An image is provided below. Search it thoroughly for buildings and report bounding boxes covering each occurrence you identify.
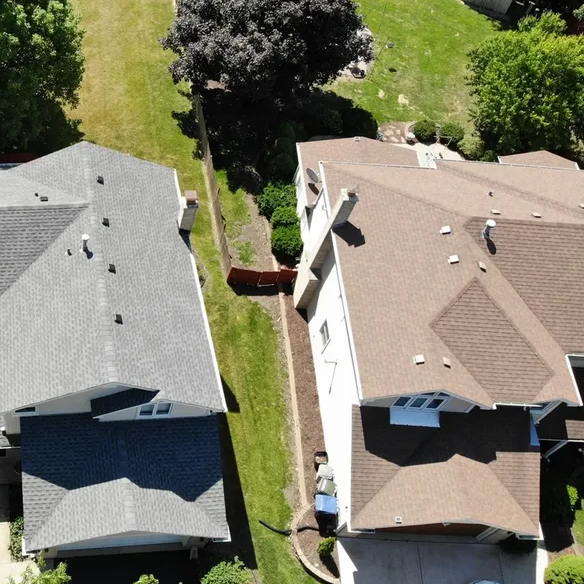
[0,141,233,562]
[289,136,584,548]
[457,0,513,22]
